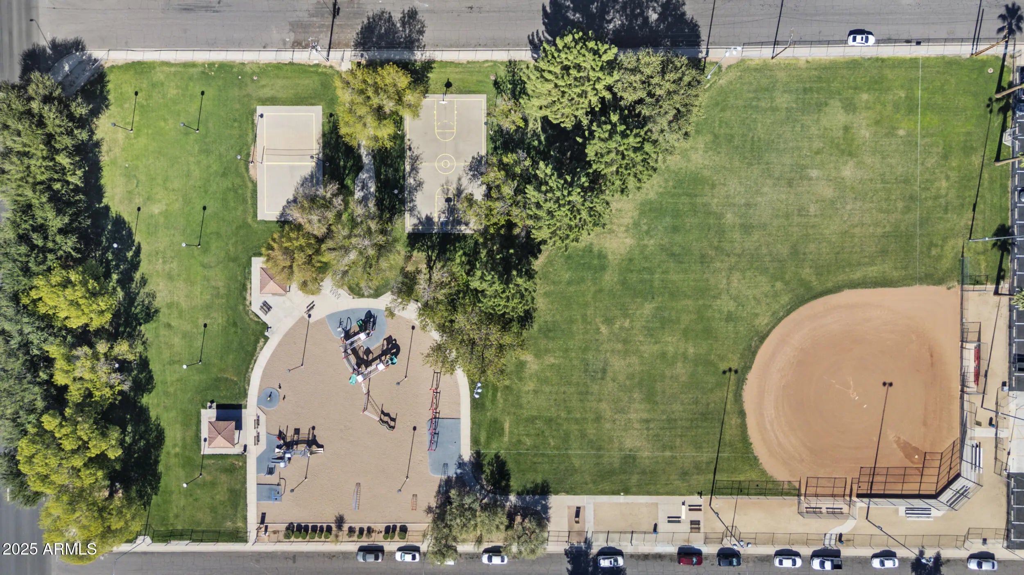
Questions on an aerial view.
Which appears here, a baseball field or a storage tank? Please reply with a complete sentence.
Looking from above, you can make out a baseball field.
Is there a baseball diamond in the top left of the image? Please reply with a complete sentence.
No, I see no baseball diamond in the top left of the image.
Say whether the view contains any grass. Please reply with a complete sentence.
Yes, there's grass in this view.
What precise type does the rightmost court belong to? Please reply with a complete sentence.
It turns out the rightmost court is a basketball court.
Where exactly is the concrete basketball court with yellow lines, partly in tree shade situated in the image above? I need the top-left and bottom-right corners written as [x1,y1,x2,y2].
[405,94,487,233]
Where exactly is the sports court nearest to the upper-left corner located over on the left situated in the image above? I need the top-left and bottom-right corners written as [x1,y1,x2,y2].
[257,106,323,220]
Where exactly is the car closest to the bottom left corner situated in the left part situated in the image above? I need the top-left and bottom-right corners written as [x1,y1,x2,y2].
[356,549,385,562]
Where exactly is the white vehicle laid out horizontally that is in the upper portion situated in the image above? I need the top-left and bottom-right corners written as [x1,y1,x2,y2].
[846,32,875,46]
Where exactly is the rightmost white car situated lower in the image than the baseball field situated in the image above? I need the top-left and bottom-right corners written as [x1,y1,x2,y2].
[966,558,998,571]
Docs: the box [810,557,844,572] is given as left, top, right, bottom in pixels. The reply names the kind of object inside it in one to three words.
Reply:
vehicle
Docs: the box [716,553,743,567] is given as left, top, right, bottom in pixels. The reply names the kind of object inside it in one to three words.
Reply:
car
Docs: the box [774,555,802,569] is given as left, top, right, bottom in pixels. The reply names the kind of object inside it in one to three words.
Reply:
car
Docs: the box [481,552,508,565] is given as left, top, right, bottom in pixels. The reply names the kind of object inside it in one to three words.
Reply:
vehicle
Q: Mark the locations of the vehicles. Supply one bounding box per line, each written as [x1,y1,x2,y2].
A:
[1017,89,1024,101]
[1018,190,1024,201]
[810,557,844,572]
[597,554,624,569]
[870,556,899,570]
[481,552,508,565]
[356,549,385,562]
[846,32,875,46]
[1016,104,1024,116]
[716,553,743,567]
[966,558,998,571]
[677,553,703,567]
[774,555,802,569]
[1011,359,1024,371]
[396,549,421,563]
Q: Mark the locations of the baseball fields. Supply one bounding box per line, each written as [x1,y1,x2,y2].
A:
[479,56,1008,499]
